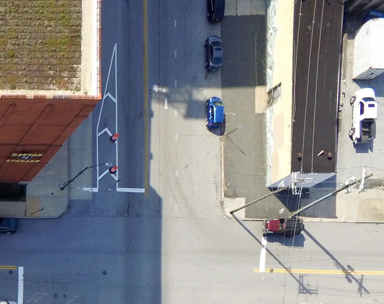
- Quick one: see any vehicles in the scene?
Yes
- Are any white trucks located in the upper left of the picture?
No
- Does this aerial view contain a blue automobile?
Yes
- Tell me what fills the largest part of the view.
paved ground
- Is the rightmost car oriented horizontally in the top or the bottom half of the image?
bottom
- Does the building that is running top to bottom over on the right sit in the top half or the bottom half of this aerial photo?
top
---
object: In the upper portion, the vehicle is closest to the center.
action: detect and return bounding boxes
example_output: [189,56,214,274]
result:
[205,97,226,131]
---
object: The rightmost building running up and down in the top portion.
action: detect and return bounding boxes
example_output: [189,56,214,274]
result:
[266,0,337,193]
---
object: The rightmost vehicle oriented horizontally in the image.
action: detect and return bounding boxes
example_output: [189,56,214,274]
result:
[261,215,309,236]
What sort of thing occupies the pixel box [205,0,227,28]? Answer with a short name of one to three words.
car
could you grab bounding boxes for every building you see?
[266,0,337,193]
[0,0,102,184]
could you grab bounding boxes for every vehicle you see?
[261,215,309,236]
[205,97,226,131]
[204,35,225,72]
[0,217,19,235]
[205,0,227,28]
[351,90,378,144]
